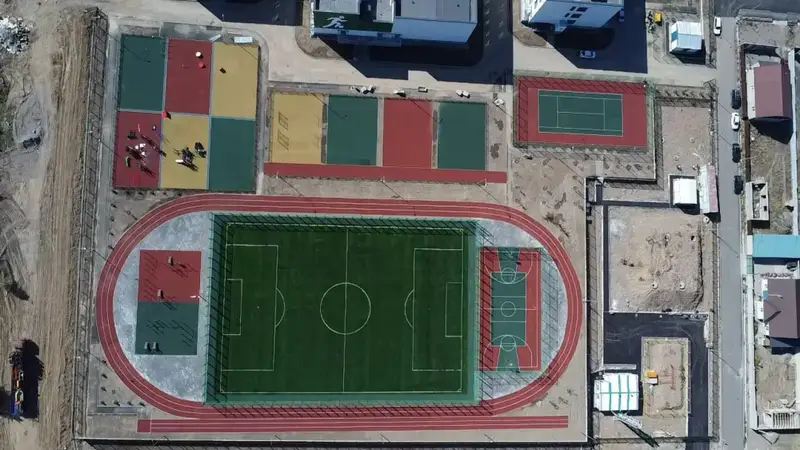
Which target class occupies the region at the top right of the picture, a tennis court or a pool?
tennis court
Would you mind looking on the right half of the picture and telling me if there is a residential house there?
Yes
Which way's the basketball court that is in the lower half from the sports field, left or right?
right of it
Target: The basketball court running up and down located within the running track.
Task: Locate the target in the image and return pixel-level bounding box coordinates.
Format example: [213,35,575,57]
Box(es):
[480,248,542,371]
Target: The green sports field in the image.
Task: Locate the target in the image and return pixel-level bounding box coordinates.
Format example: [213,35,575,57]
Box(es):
[206,212,478,402]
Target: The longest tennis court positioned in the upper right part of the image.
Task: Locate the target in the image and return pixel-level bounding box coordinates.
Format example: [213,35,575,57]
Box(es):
[516,77,648,148]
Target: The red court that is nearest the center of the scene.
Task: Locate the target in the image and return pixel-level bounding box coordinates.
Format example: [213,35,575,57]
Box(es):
[383,98,432,168]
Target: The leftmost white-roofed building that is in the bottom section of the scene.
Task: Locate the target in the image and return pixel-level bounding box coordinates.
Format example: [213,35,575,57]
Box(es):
[590,373,638,411]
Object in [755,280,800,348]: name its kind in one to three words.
house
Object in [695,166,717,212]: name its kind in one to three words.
shed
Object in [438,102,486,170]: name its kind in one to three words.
sports court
